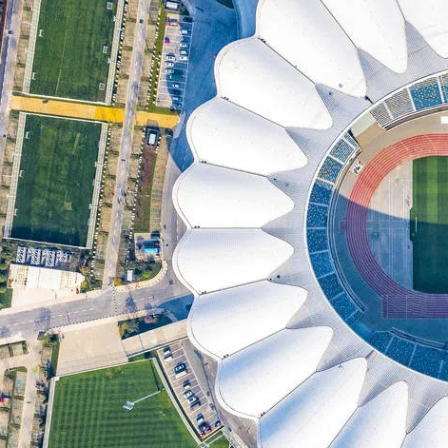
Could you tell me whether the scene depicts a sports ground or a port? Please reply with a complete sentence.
What you see here is a sports ground.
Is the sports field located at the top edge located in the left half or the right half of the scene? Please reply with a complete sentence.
The sports field located at the top edge sits on the left side.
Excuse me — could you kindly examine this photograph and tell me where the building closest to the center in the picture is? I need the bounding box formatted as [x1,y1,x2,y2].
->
[139,236,162,255]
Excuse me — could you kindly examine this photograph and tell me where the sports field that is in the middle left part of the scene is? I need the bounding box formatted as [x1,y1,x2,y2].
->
[0,110,107,249]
